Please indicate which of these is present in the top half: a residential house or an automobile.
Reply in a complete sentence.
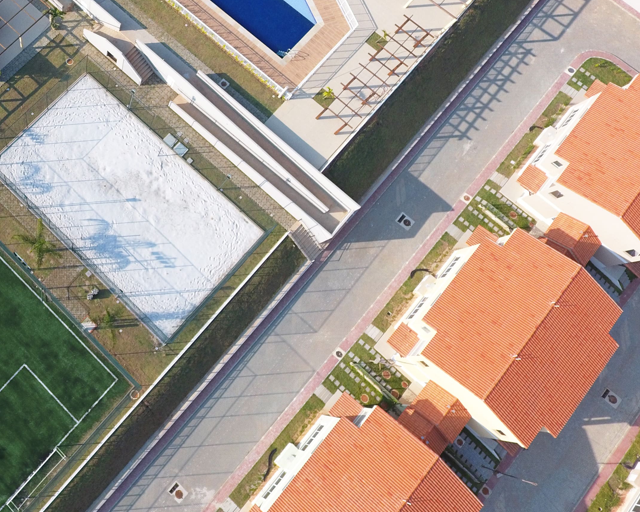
The one visible in the top half is a residential house.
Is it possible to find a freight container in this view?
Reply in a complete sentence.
No, this view has no freight container in it.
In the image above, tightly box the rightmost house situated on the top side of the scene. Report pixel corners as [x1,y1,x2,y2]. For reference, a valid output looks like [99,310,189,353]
[495,70,640,286]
